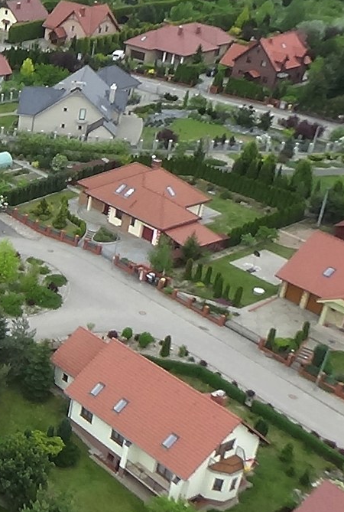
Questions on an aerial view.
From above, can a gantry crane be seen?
No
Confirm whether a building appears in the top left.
Yes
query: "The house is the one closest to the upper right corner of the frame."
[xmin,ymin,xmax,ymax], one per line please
[207,28,306,87]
